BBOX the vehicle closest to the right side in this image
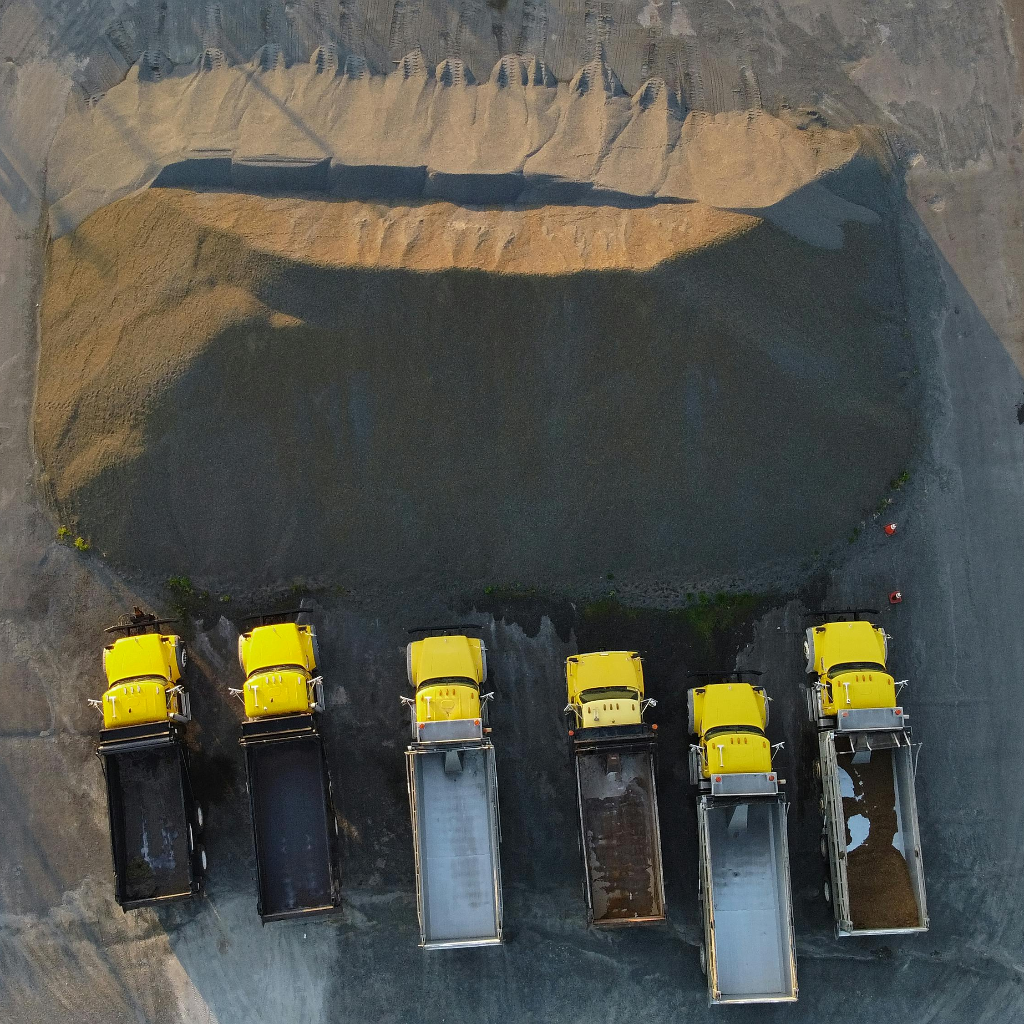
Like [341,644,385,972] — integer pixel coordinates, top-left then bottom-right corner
[800,605,929,937]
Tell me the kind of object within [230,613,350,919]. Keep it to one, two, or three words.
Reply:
truck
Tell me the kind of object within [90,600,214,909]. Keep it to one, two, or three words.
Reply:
truck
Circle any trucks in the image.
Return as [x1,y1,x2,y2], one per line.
[230,613,350,919]
[684,669,798,1009]
[800,605,929,937]
[90,600,214,909]
[400,621,507,952]
[559,649,670,929]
